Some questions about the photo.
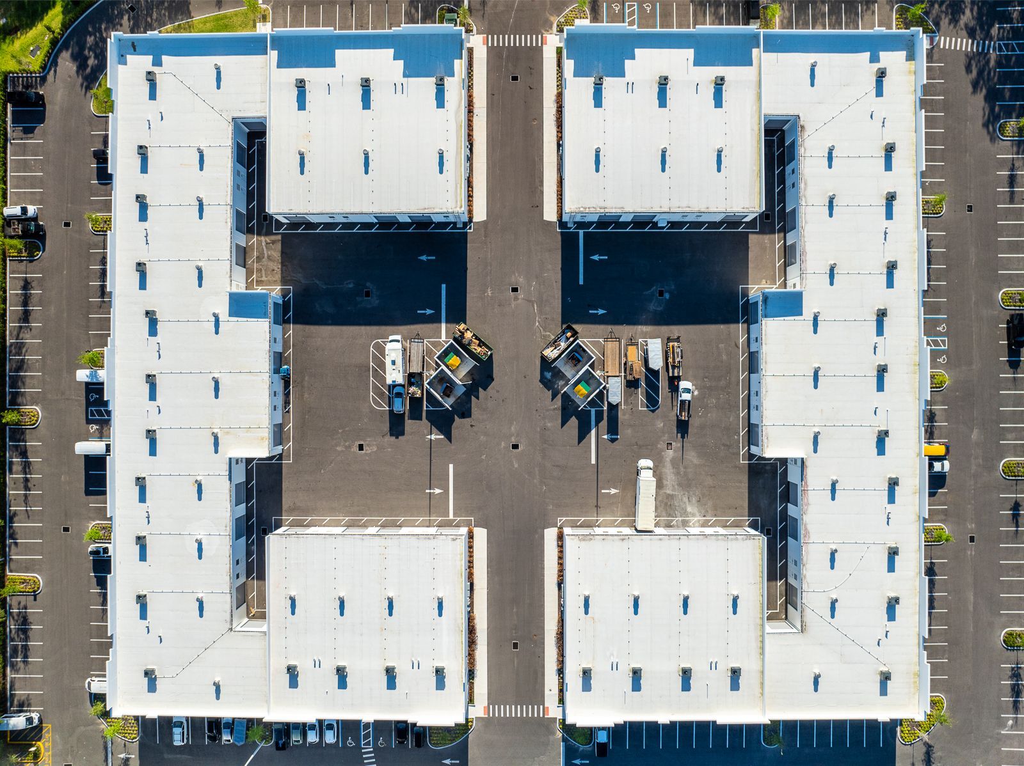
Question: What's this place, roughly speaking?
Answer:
parking lot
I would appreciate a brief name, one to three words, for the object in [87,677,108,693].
car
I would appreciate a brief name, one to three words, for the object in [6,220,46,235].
vehicle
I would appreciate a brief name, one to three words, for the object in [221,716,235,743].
car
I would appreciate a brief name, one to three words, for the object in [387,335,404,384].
camper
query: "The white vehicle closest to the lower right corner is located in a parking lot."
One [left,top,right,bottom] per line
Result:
[926,459,949,473]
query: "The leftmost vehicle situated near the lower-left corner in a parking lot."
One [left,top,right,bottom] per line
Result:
[0,711,46,732]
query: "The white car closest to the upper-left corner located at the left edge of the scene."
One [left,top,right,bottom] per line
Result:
[4,204,39,219]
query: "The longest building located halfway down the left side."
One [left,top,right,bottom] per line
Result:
[104,31,285,718]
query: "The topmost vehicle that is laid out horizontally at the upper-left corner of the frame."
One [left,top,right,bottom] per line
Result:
[2,88,46,106]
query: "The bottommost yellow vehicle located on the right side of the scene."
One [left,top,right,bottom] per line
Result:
[923,442,946,457]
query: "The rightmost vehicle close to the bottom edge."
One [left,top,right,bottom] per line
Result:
[595,726,610,758]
